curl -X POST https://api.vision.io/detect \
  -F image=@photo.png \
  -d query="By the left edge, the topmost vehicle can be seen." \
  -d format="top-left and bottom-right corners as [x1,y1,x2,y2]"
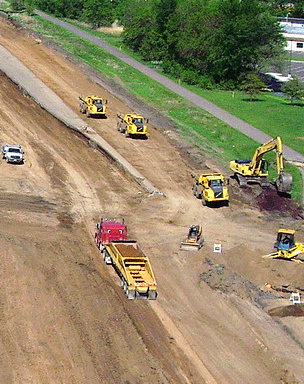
[0,142,26,164]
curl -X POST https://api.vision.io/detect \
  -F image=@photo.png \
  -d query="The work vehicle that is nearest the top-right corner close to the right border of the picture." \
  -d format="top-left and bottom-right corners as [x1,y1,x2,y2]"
[224,144,294,186]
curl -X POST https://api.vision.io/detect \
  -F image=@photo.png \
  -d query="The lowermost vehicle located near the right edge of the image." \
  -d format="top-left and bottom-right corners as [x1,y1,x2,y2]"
[250,228,304,264]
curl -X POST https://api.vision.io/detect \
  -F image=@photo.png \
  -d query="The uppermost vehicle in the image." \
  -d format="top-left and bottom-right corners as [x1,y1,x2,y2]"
[83,88,109,114]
